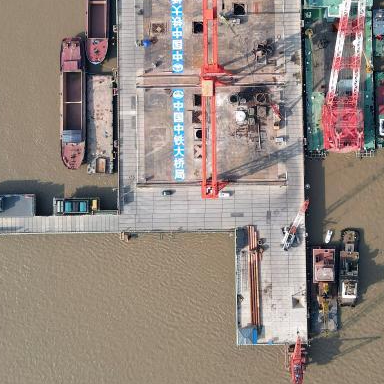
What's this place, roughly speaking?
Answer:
port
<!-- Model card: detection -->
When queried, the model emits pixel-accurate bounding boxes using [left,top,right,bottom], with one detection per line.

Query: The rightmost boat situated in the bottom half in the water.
[340,228,360,308]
